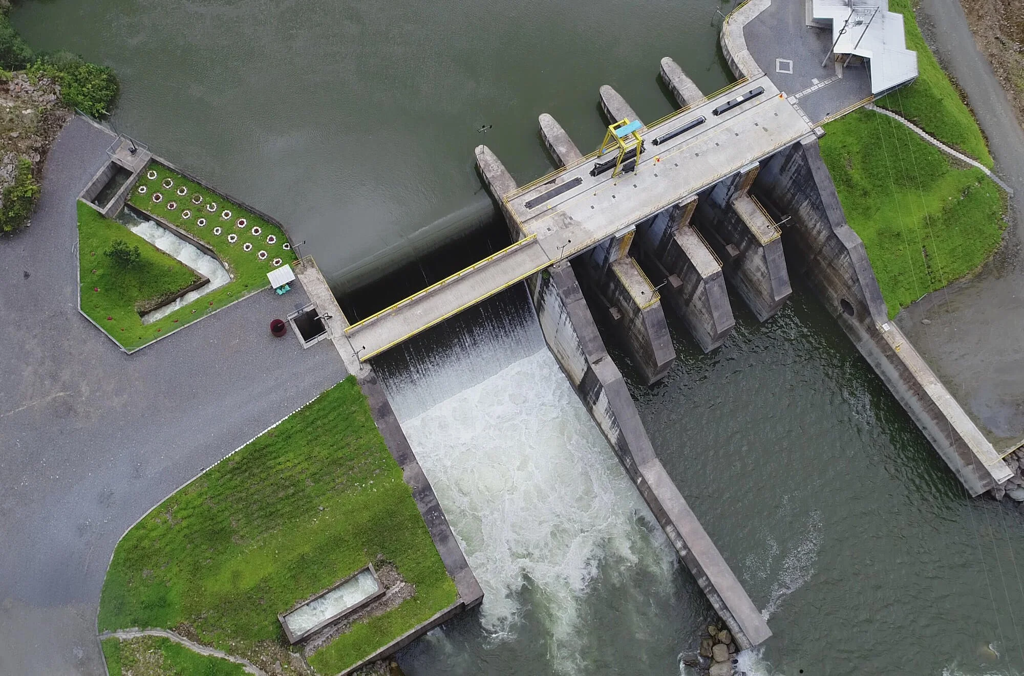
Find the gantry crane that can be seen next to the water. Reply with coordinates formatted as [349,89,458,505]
[597,114,645,178]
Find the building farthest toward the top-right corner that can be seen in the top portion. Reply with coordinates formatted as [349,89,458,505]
[806,0,921,103]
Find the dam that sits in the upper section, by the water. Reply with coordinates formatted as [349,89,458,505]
[507,58,811,382]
